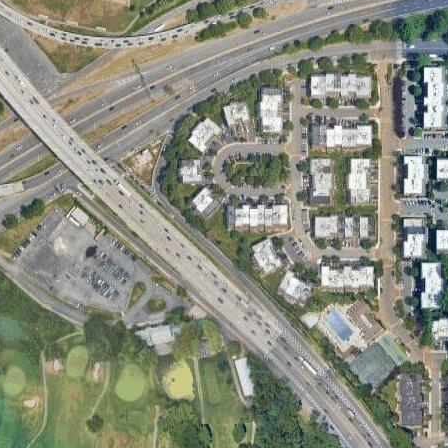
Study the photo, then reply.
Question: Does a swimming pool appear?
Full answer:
Yes, the image includes a swimming pool.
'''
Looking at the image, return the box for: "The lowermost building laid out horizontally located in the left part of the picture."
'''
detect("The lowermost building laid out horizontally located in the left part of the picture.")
[136,324,180,344]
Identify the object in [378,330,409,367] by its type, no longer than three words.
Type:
sports court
